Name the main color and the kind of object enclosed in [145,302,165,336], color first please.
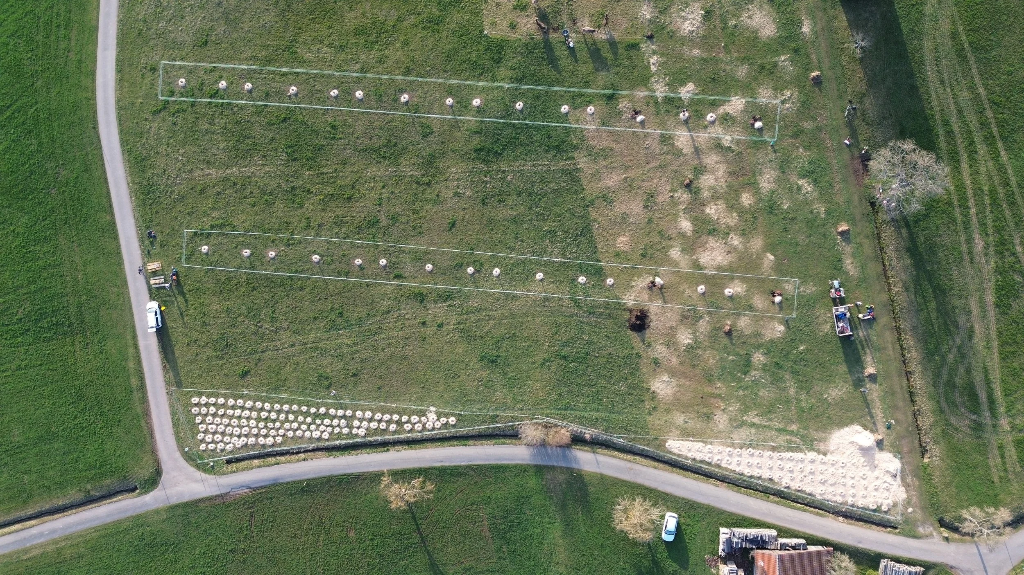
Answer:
white car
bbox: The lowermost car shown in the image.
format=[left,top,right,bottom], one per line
[662,512,678,541]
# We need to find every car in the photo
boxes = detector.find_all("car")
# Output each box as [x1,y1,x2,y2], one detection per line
[662,512,678,541]
[145,302,165,336]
